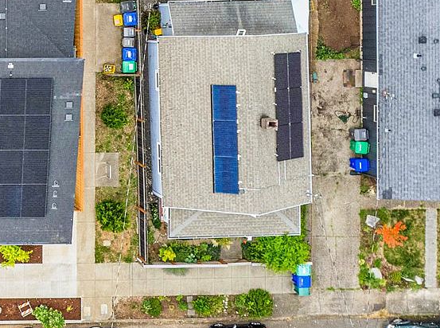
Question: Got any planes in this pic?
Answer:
No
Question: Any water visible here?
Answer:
No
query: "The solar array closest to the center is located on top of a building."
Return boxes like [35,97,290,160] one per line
[212,86,241,196]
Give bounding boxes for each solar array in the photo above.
[212,86,241,196]
[275,52,305,161]
[0,80,55,223]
